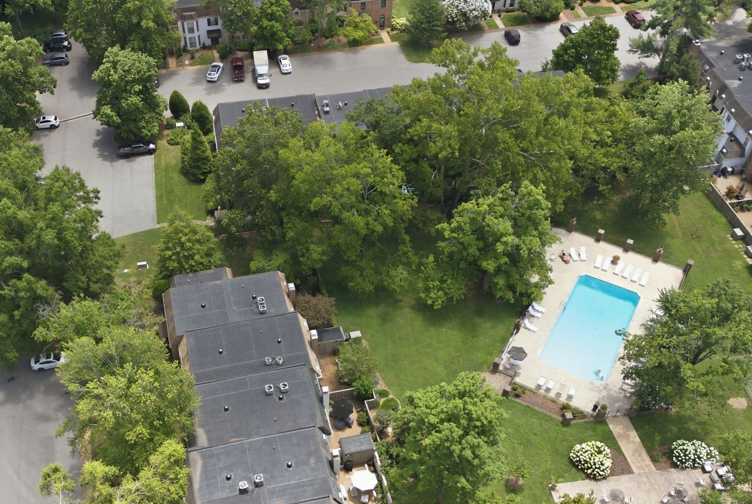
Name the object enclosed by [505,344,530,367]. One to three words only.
umbrella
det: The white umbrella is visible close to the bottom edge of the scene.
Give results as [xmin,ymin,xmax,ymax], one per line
[350,470,378,495]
